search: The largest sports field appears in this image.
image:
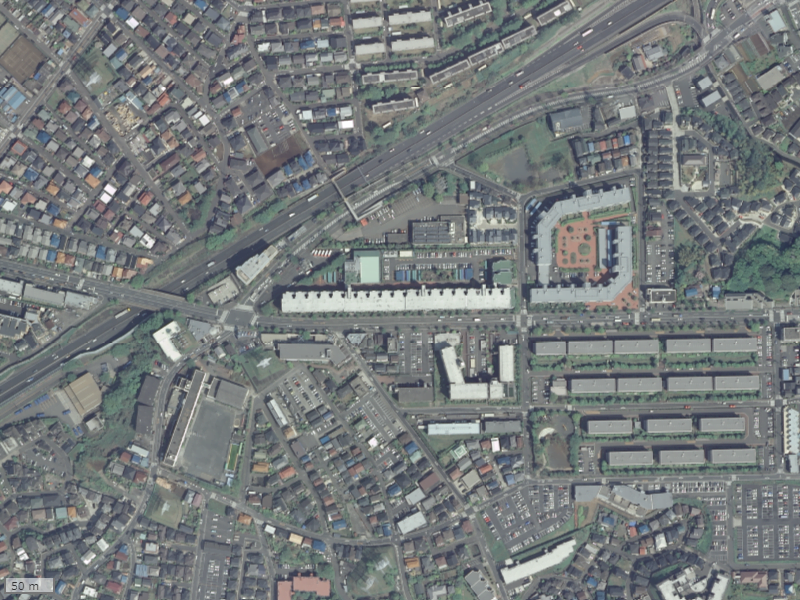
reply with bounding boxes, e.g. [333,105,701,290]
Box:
[182,398,244,484]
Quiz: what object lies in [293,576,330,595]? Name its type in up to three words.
house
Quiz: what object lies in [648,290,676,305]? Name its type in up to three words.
building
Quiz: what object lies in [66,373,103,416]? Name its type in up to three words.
barn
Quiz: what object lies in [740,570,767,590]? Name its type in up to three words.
building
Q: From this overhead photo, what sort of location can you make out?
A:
residential area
